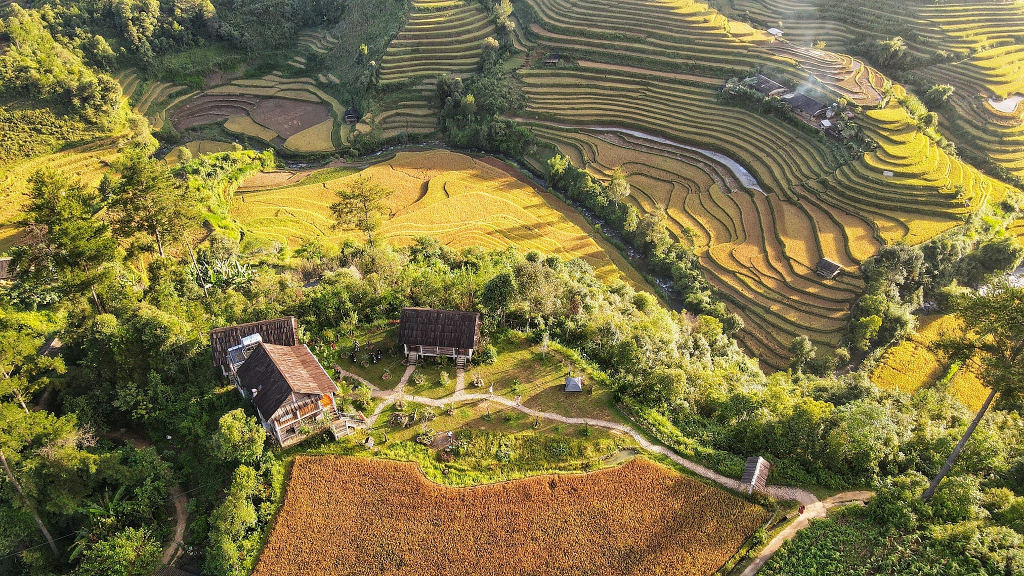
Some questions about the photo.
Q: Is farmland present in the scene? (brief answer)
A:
Yes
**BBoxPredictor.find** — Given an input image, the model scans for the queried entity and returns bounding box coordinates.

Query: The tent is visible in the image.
[561,378,583,397]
